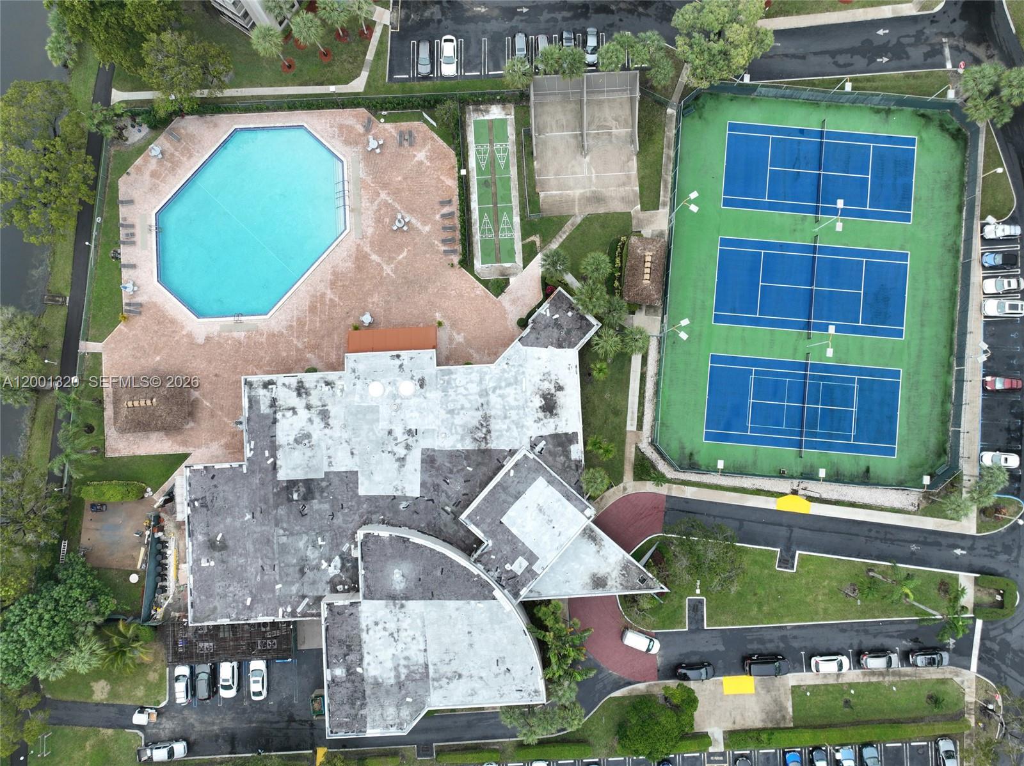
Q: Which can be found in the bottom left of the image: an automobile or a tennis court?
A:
automobile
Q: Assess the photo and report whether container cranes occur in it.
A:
No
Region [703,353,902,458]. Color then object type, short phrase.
blue tennis court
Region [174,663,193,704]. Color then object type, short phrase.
white vehicle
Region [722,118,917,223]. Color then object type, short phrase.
blue tennis court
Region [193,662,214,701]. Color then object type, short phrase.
gray car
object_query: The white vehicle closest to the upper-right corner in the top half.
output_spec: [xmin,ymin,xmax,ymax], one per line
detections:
[981,221,1022,240]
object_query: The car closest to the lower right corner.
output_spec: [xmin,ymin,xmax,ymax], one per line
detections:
[934,735,956,766]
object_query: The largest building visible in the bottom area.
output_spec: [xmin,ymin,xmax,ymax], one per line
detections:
[185,287,670,739]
